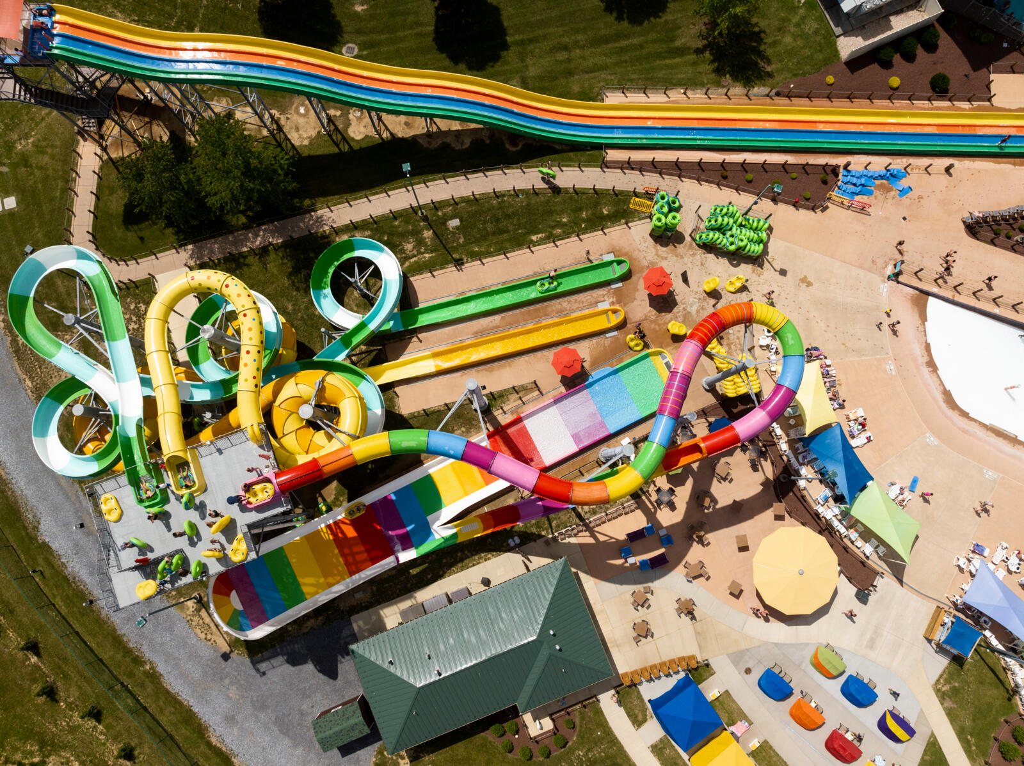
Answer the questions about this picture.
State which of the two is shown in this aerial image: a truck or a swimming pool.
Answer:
swimming pool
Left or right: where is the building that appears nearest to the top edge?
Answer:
right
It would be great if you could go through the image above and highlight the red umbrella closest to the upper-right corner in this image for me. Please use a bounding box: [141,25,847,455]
[641,268,671,297]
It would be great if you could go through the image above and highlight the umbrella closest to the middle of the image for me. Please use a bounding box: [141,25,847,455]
[553,348,582,377]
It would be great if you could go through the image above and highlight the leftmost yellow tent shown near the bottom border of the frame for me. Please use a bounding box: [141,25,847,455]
[680,726,748,766]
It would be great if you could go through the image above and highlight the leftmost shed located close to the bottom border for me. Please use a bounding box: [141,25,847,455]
[311,694,375,753]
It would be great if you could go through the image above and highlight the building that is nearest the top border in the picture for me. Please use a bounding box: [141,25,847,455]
[814,0,949,61]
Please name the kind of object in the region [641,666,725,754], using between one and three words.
tent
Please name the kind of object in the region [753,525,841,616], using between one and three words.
umbrella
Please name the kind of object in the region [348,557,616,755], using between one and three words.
building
